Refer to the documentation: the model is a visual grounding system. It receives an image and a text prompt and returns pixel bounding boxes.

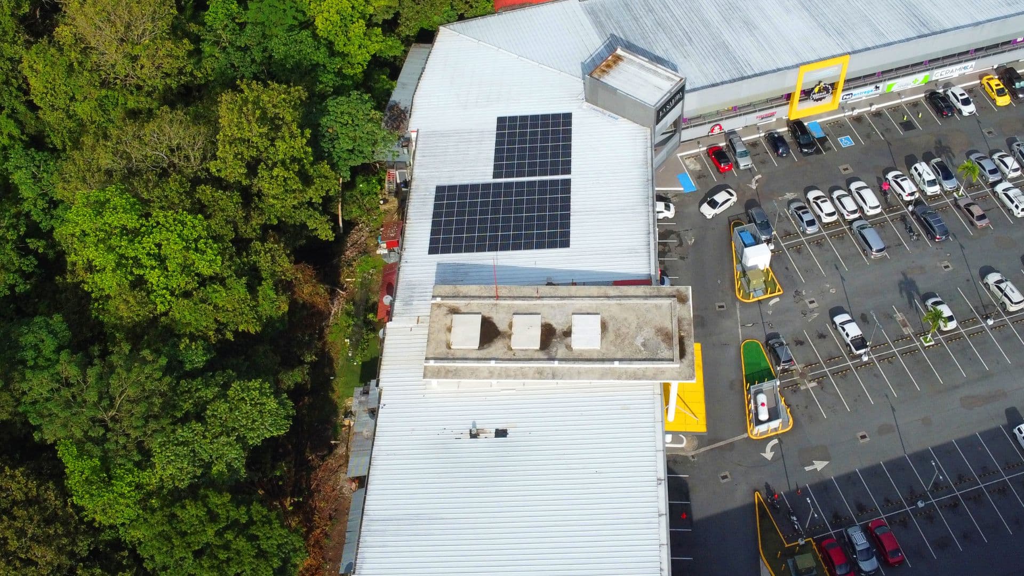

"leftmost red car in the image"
[708,148,734,175]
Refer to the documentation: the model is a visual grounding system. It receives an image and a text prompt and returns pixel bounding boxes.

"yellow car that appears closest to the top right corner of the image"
[981,78,1011,106]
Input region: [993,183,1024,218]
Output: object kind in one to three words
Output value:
car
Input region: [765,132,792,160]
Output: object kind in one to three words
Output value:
car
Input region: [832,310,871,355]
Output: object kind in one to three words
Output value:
truck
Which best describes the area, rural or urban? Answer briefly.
urban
